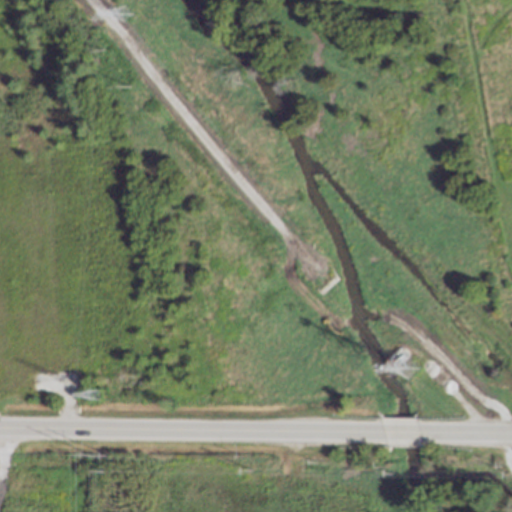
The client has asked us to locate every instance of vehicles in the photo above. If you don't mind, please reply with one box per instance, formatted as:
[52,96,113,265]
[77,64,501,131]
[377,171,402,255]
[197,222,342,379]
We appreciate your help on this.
[322,318,336,329]
[75,430,90,438]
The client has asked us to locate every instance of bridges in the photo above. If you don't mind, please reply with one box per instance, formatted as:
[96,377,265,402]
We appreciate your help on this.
[380,412,426,454]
